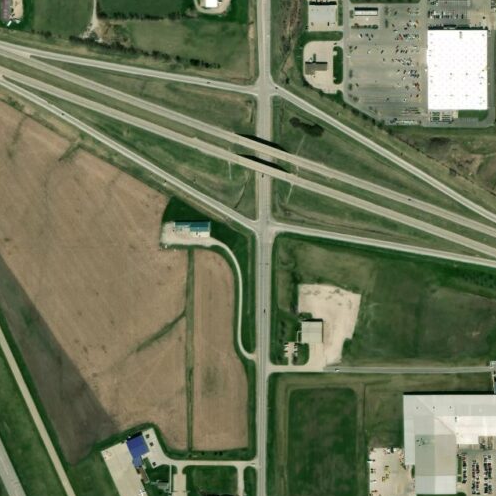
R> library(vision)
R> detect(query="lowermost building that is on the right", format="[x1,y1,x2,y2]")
[403,394,496,494]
